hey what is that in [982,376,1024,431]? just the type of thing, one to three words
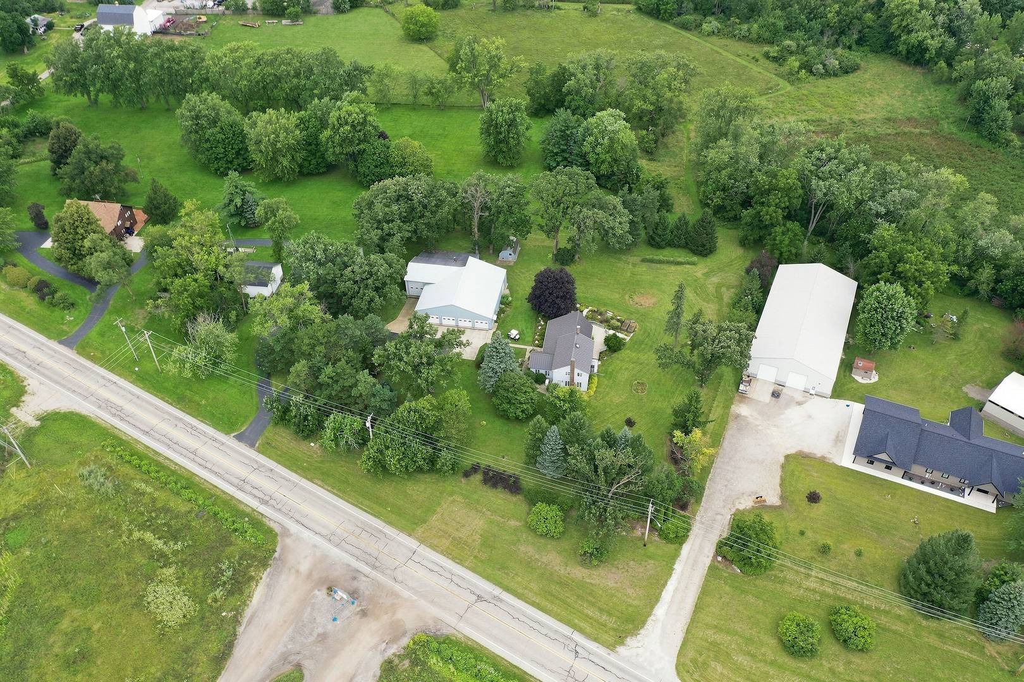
shed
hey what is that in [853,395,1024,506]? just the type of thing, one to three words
house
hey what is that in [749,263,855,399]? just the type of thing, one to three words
barn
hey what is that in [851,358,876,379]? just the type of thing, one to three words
shed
